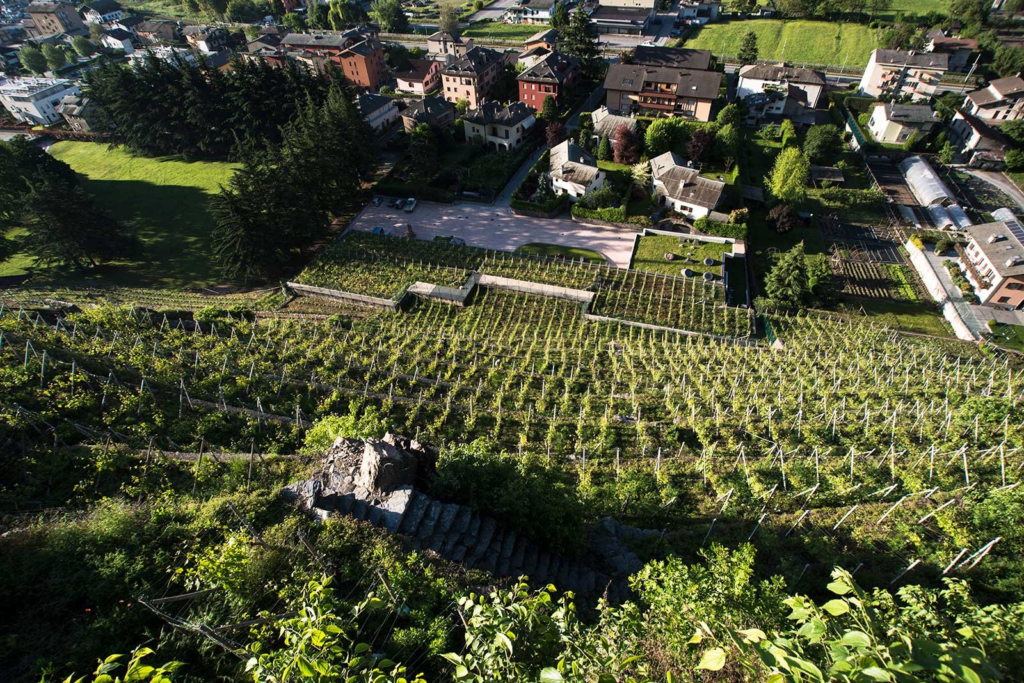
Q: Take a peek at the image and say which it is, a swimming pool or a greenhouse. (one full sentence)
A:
Looking from above, you can make out a greenhouse.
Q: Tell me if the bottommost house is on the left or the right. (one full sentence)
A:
The bottommost house is on the right side of the image.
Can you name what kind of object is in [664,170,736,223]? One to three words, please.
house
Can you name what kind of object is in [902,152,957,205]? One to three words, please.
greenhouse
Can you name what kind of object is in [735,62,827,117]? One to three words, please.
house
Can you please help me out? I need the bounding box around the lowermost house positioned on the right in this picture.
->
[944,227,1024,306]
